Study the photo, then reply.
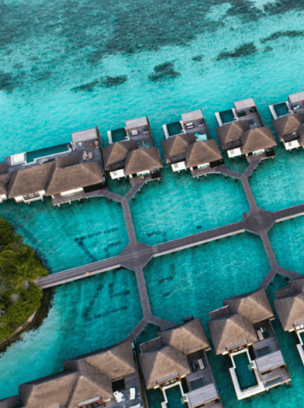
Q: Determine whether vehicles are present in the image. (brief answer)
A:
No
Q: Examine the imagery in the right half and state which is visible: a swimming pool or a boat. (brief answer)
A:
swimming pool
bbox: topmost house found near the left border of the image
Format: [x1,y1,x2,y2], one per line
[0,125,111,214]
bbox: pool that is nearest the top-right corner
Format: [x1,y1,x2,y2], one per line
[270,103,293,120]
